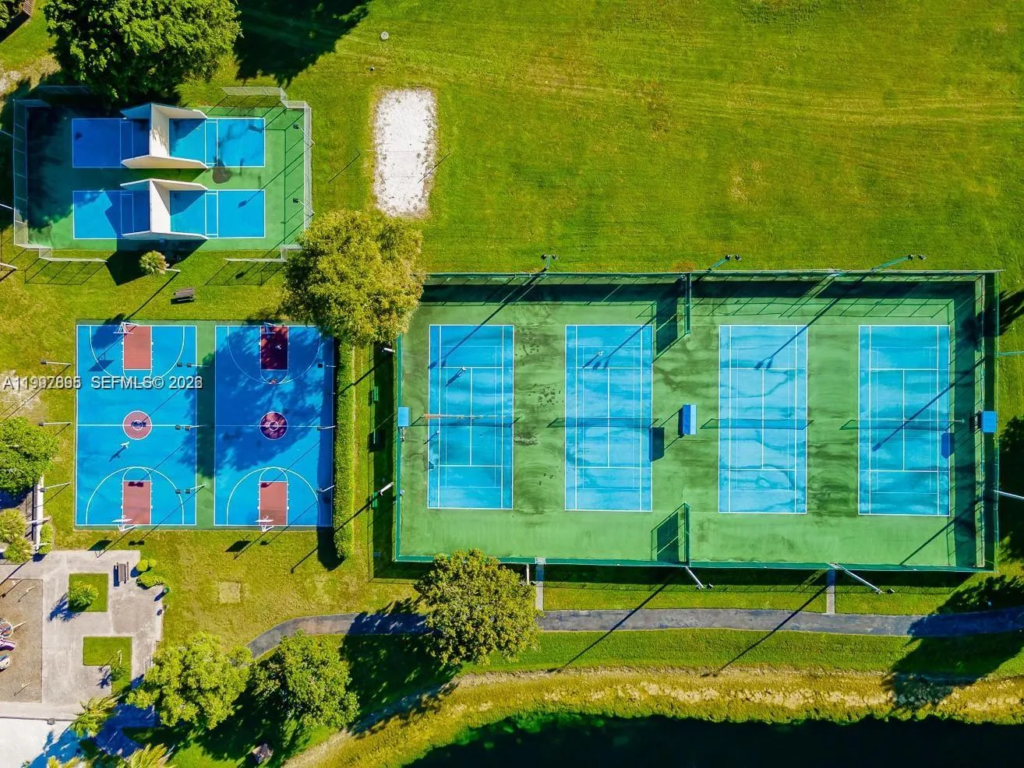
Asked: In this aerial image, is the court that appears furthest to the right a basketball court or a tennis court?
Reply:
tennis court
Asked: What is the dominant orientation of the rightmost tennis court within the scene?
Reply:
from top to bottom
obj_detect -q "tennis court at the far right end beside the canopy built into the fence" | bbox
[859,325,950,516]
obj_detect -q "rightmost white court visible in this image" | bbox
[372,86,438,217]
